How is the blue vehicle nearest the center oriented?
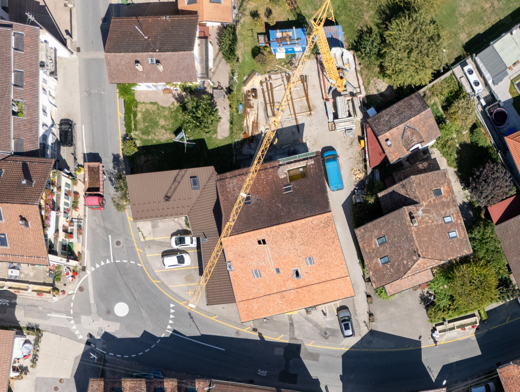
vertically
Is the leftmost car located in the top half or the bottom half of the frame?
top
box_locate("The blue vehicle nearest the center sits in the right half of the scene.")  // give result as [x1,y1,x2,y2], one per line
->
[323,149,344,193]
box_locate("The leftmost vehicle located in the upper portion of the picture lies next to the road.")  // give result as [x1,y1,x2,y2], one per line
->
[57,118,76,149]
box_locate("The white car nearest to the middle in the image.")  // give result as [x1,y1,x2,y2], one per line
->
[171,234,198,249]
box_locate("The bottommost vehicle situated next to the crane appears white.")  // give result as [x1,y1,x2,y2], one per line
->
[161,253,193,269]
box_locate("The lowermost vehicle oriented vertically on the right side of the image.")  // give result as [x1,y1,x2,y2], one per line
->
[337,307,356,340]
